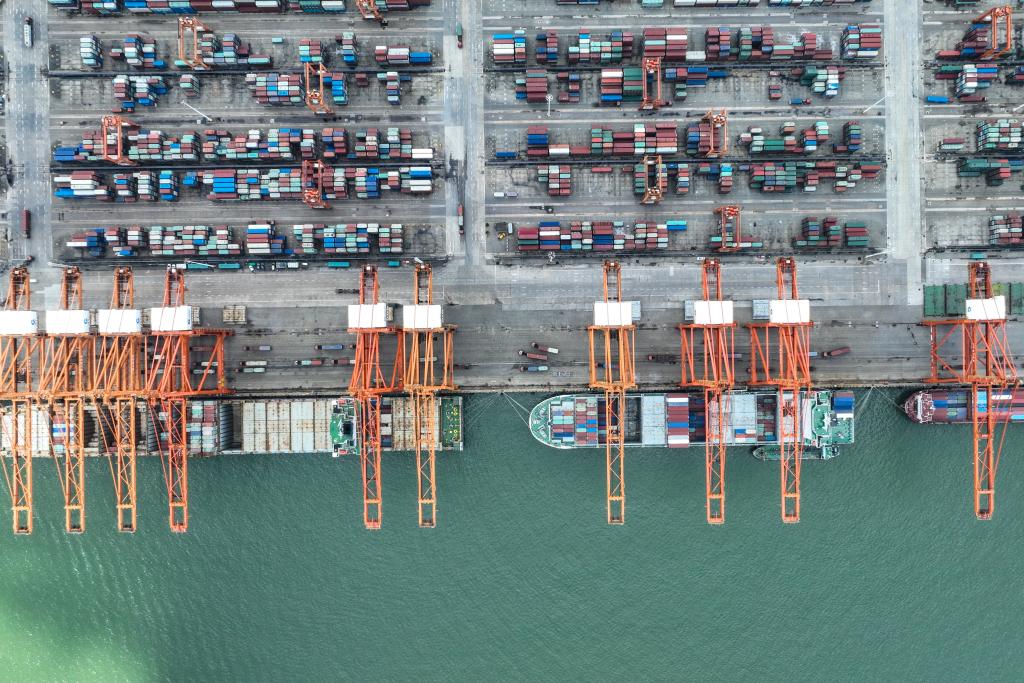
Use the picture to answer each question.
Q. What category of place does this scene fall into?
port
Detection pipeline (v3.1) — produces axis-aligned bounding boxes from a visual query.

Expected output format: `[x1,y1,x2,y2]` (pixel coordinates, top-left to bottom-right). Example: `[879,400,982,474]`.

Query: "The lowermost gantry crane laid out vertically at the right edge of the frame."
[916,260,1024,522]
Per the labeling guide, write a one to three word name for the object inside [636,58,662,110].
container crane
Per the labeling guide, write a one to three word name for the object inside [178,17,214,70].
container crane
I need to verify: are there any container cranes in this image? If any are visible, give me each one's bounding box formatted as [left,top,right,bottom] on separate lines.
[636,155,663,204]
[916,260,1024,522]
[178,17,214,70]
[88,268,178,534]
[303,160,332,208]
[740,257,818,523]
[636,58,662,110]
[671,258,736,524]
[102,116,140,165]
[144,267,235,534]
[348,262,407,530]
[401,261,458,530]
[35,269,127,534]
[0,269,85,535]
[304,62,334,114]
[580,259,637,525]
[697,108,727,158]
[360,0,386,19]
